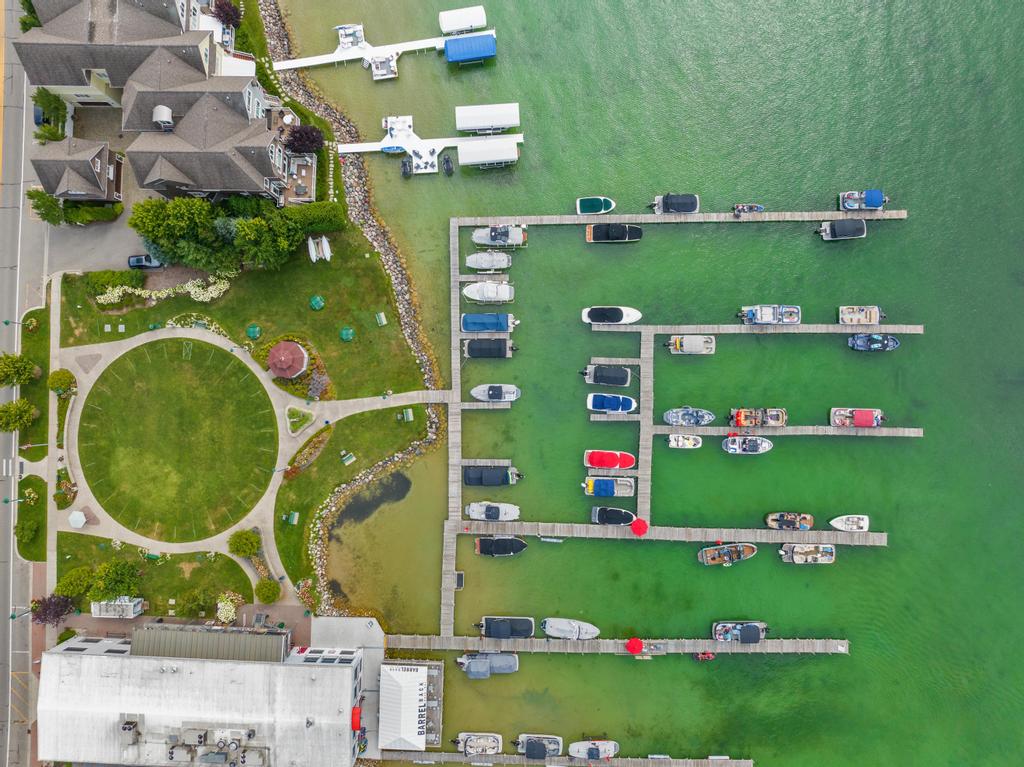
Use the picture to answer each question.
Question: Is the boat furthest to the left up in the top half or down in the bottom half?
top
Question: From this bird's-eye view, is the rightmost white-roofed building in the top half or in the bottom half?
bottom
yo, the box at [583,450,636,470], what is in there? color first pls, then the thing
red boat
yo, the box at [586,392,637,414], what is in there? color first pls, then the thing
blue boat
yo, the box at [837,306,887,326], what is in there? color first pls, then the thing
white boat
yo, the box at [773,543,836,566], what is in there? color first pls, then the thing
white boat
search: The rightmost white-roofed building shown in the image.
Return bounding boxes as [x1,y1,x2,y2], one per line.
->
[379,660,443,752]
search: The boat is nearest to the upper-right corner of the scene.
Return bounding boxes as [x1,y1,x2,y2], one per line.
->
[838,190,891,212]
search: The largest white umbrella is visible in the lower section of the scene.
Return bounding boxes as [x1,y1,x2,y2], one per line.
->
[70,510,91,528]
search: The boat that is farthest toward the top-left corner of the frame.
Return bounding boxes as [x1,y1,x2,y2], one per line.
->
[306,234,330,263]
